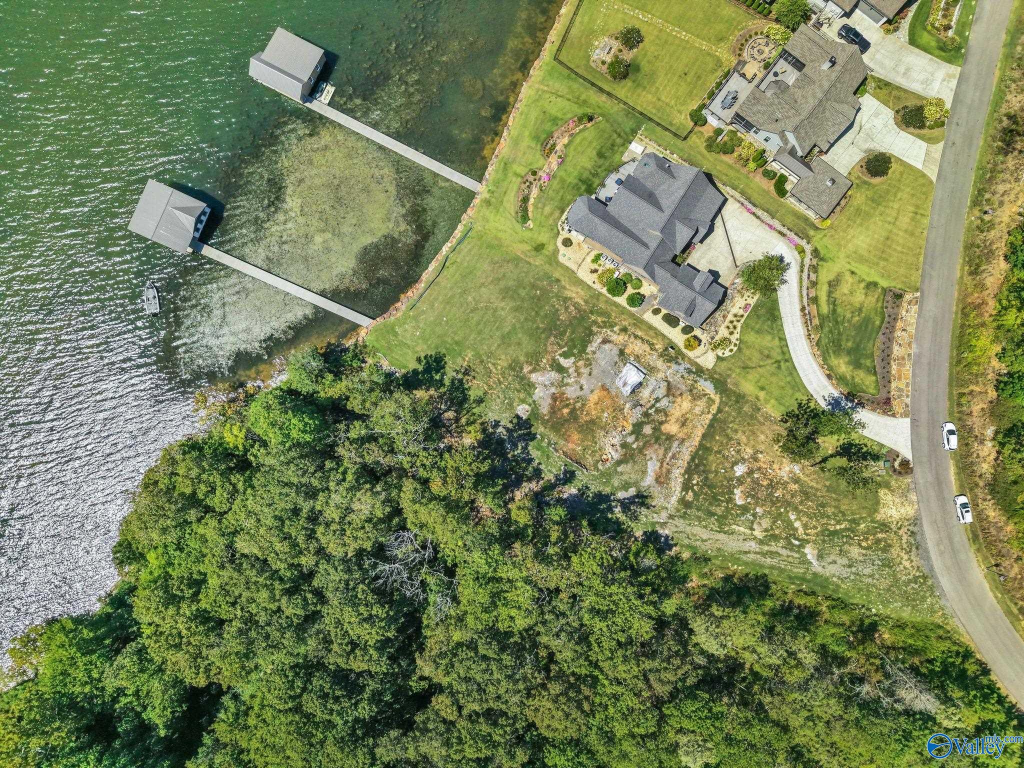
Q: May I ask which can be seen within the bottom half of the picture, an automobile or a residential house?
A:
automobile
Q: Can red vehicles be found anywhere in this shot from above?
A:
No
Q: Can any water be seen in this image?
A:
Yes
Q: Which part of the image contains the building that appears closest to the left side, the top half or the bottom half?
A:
top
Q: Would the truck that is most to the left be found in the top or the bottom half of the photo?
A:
top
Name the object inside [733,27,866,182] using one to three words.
house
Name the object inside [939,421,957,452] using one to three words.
car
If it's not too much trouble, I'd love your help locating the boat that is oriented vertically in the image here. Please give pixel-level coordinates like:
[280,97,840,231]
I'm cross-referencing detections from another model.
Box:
[145,281,160,319]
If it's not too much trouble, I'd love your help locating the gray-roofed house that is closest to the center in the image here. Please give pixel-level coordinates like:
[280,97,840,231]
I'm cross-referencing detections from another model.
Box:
[566,151,726,327]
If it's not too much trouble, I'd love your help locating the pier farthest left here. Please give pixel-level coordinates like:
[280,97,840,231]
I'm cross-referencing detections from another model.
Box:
[200,245,374,328]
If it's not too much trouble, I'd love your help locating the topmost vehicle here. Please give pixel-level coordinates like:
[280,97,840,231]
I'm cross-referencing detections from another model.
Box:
[833,23,871,57]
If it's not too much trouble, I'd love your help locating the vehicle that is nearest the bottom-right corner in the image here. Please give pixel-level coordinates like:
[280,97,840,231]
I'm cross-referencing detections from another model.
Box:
[952,494,972,526]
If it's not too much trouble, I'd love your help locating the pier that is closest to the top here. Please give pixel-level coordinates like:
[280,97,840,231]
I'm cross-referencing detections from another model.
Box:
[307,100,478,192]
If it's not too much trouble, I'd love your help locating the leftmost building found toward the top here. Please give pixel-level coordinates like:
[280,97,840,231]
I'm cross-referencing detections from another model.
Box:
[128,181,214,254]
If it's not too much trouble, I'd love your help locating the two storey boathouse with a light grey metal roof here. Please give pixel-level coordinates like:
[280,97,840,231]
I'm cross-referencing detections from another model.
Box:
[246,27,333,105]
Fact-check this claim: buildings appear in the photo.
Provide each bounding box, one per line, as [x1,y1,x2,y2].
[733,27,866,182]
[246,27,333,105]
[128,181,214,254]
[566,151,726,327]
[832,0,907,24]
